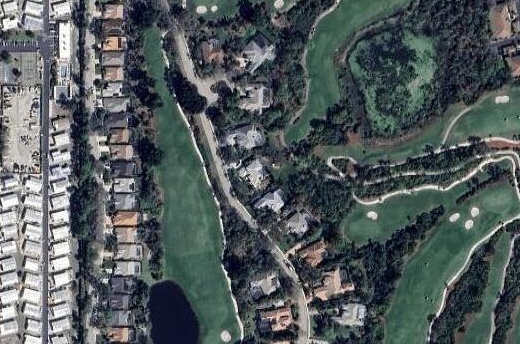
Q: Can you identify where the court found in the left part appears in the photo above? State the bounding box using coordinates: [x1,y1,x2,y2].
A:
[20,52,35,86]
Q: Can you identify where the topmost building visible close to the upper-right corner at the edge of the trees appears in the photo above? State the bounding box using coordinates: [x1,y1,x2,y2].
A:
[490,5,511,38]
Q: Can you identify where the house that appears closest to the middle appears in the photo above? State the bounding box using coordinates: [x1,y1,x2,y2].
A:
[243,153,278,191]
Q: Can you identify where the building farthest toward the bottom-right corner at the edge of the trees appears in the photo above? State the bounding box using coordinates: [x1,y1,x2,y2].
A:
[337,304,369,329]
